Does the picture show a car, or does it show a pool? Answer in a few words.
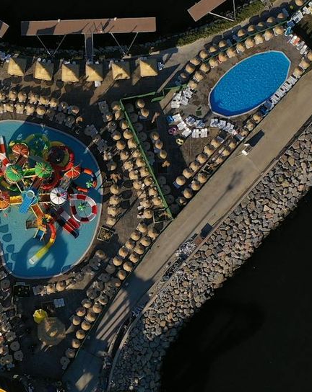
pool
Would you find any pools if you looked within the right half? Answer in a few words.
Yes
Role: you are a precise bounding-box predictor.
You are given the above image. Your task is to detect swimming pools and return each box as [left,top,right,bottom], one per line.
[0,120,103,277]
[206,47,295,120]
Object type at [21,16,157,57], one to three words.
pier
